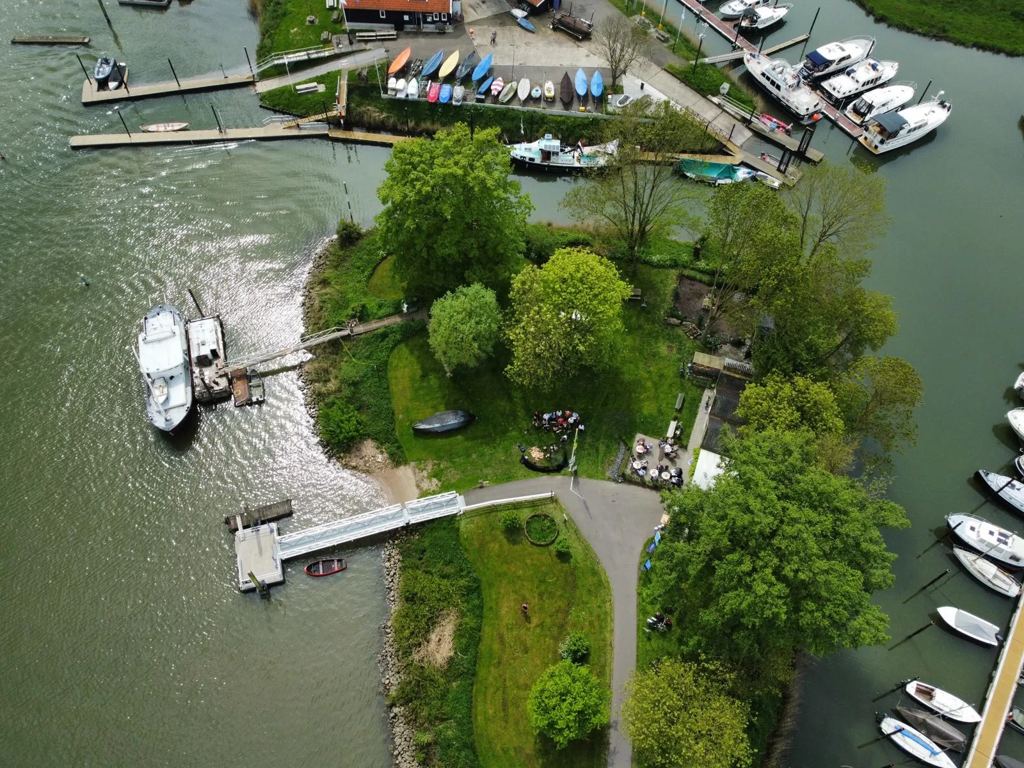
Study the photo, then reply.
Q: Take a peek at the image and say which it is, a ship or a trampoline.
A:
ship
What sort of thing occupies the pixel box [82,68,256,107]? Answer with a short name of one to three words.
pier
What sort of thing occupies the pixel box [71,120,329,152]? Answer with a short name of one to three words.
pier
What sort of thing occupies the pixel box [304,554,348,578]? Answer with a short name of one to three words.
boat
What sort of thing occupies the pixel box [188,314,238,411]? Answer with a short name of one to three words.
ship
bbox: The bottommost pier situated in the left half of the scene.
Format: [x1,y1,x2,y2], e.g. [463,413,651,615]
[235,511,285,594]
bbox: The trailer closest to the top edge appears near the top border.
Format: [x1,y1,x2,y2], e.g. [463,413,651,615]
[549,2,595,44]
